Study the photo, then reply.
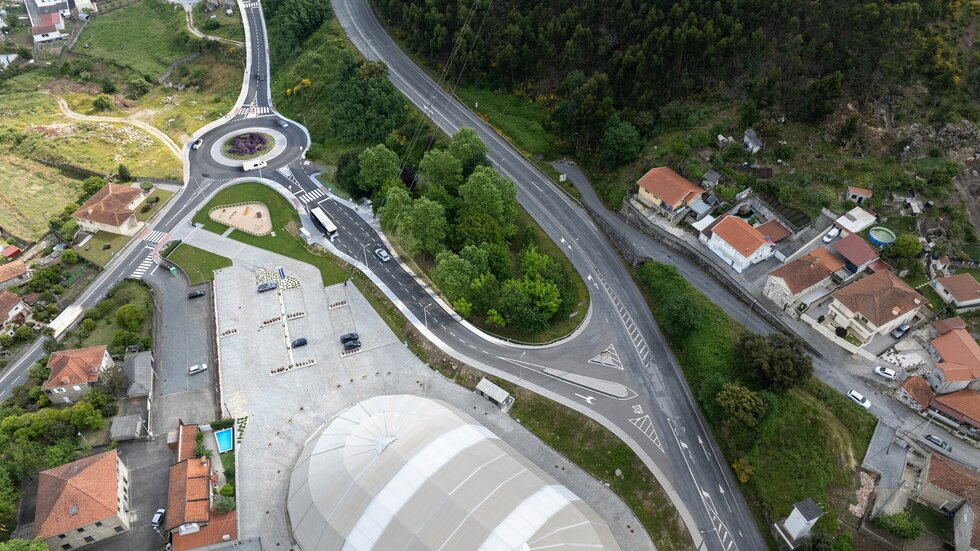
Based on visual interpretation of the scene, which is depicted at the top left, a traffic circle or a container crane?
traffic circle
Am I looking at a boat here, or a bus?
bus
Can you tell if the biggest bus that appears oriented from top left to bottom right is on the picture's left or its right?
left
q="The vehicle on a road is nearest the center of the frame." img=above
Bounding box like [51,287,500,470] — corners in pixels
[372,245,391,259]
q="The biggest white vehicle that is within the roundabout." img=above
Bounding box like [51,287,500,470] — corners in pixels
[243,156,268,170]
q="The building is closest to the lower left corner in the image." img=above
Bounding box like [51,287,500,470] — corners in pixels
[0,449,131,551]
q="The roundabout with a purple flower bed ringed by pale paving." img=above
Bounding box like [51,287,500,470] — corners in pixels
[189,115,308,185]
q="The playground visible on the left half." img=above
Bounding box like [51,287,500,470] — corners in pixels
[209,201,272,235]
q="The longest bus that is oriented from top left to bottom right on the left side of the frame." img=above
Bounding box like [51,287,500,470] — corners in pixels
[308,206,342,244]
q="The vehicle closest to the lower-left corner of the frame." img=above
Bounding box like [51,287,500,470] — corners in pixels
[146,504,167,529]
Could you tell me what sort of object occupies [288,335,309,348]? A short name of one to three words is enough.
vehicle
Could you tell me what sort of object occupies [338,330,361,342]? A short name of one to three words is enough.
vehicle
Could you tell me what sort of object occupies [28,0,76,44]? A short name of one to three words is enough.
house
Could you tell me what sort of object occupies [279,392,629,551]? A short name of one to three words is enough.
building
